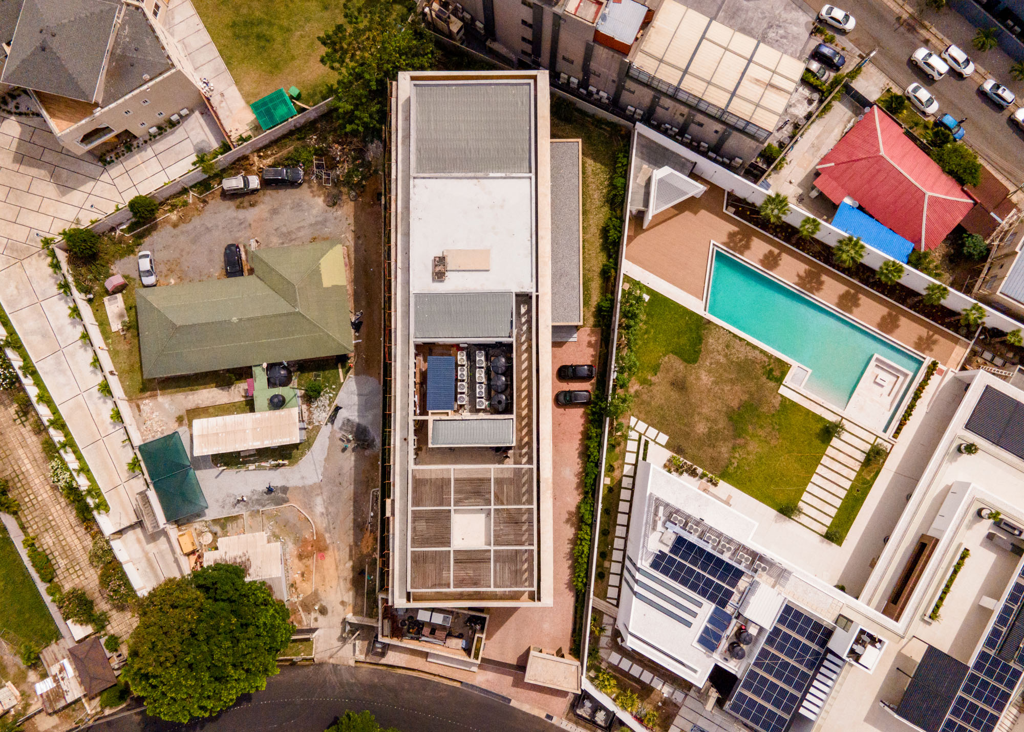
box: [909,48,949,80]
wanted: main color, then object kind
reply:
white car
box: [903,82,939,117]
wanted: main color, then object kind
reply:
white car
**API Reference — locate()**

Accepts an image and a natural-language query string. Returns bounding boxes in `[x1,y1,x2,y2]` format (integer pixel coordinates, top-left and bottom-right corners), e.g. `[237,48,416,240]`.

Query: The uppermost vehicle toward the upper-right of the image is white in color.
[817,5,856,34]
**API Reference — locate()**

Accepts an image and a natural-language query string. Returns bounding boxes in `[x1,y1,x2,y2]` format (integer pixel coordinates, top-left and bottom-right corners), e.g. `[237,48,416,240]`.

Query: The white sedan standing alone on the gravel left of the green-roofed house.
[138,249,159,288]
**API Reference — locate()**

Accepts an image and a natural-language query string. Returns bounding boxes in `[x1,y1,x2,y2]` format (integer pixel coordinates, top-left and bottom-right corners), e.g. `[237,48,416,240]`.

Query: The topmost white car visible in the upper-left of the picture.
[220,173,261,195]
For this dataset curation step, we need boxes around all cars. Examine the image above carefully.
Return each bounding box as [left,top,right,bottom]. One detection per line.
[903,82,939,117]
[817,5,856,34]
[933,111,967,142]
[940,45,973,77]
[259,165,304,186]
[909,48,949,80]
[802,56,834,83]
[225,242,245,277]
[138,249,159,288]
[978,78,1018,110]
[557,362,596,381]
[808,41,848,71]
[554,388,593,407]
[220,173,261,195]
